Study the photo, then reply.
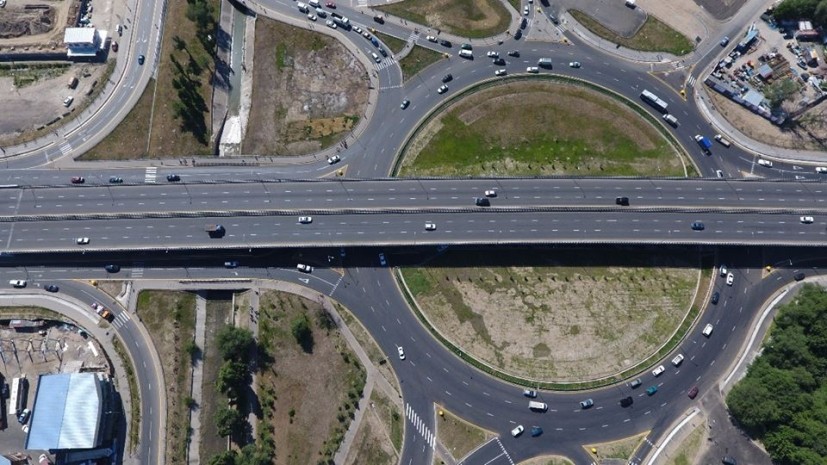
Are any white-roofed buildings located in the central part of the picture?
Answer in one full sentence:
No, no white-roofed building appears in the central part of the picture.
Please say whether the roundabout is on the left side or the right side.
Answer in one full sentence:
The roundabout appears in the right half of the scene.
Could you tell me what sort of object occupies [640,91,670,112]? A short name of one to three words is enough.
bus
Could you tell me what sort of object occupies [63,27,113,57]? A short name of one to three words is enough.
building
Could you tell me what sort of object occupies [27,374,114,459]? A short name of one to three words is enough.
building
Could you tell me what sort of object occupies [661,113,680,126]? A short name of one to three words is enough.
vehicle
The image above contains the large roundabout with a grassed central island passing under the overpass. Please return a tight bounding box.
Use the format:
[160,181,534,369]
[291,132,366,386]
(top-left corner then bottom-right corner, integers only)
[335,40,761,445]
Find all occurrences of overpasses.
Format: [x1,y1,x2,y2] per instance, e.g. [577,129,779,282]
[0,176,827,253]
